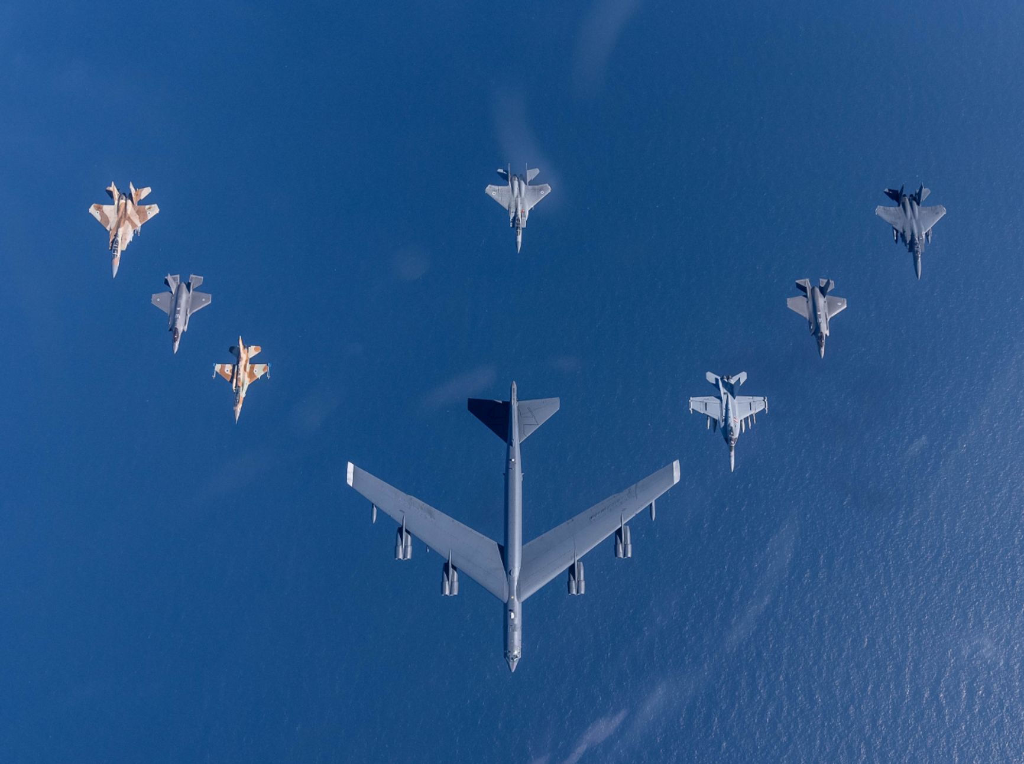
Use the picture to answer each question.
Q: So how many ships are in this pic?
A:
zero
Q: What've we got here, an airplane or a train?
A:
airplane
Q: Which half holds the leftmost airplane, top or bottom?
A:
top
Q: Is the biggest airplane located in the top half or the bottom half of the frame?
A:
bottom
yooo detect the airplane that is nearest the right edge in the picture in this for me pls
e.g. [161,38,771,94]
[875,182,946,280]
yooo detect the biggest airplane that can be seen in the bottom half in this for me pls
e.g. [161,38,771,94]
[346,382,680,672]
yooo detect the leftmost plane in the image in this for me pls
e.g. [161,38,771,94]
[89,181,159,278]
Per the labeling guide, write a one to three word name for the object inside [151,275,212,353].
airplane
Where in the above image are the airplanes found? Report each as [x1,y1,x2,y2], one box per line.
[786,279,847,358]
[89,181,159,278]
[486,162,551,253]
[346,382,680,672]
[213,338,271,421]
[875,182,946,280]
[151,275,212,353]
[690,372,767,472]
